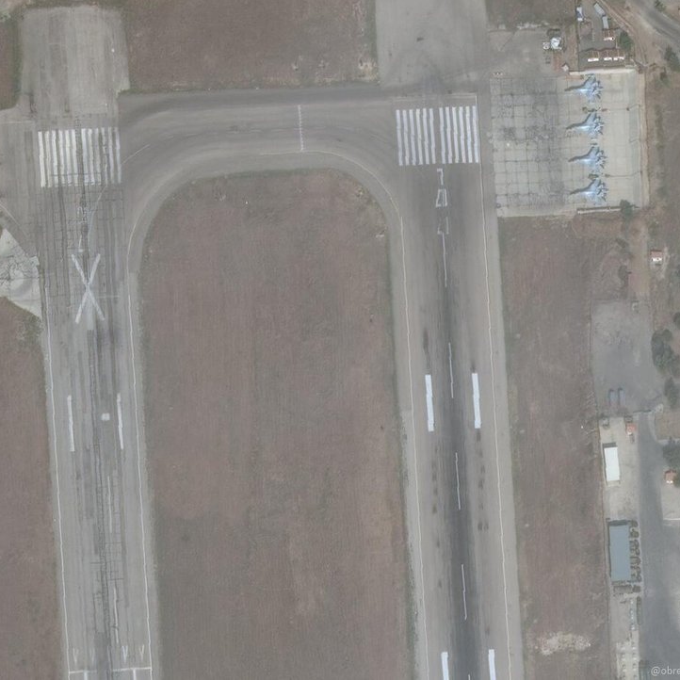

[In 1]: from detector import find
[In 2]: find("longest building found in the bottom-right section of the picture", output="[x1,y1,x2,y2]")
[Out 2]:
[609,524,631,584]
